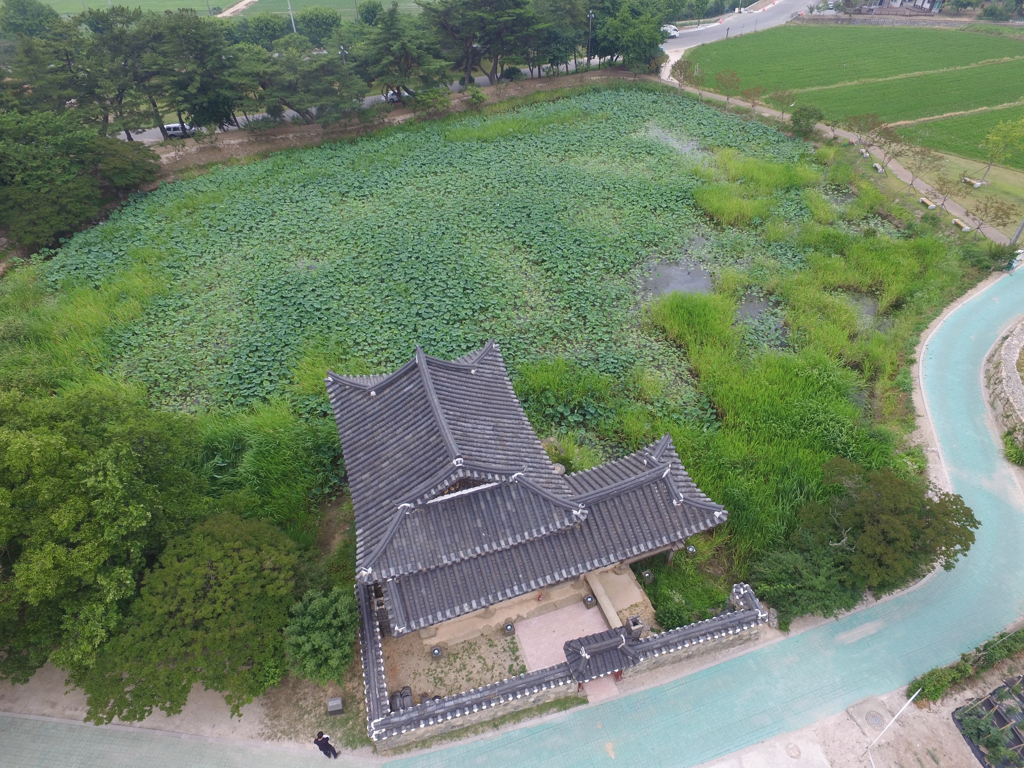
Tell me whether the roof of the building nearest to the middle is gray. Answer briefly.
Yes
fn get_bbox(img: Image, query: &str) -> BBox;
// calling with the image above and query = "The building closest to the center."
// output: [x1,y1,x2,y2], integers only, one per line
[324,336,729,645]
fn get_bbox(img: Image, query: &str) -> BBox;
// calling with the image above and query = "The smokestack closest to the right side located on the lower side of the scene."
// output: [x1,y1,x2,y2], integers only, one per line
[626,619,644,640]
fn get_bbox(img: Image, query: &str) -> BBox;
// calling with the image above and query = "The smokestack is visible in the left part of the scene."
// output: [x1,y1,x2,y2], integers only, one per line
[372,595,397,643]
